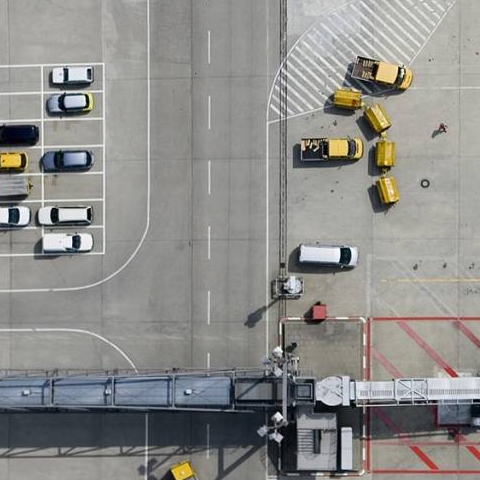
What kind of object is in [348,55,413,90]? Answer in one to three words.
truck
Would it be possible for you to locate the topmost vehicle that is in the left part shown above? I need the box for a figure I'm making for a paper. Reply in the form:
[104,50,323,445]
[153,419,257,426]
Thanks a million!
[50,64,94,86]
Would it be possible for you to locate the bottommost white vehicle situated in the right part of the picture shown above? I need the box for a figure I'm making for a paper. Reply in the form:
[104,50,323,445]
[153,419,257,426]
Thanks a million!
[299,243,358,270]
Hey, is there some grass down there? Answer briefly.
No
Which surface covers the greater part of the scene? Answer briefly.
paved ground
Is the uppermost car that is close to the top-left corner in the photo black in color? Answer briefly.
No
